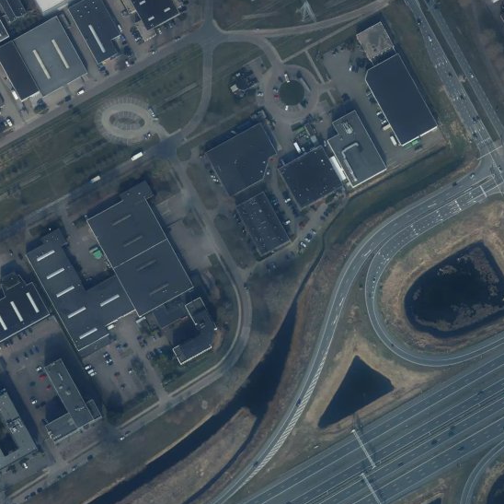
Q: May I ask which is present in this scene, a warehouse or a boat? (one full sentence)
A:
Visible in the photo is a warehouse.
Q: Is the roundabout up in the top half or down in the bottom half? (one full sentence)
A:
Seen from above, the roundabout lies in the top half of the view.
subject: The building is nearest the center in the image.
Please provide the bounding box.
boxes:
[236,192,291,258]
